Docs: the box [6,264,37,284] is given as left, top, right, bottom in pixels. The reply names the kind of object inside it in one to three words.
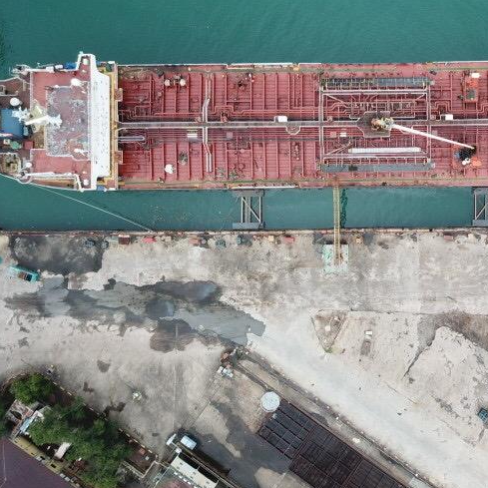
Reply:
vehicle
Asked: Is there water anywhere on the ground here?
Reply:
Yes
